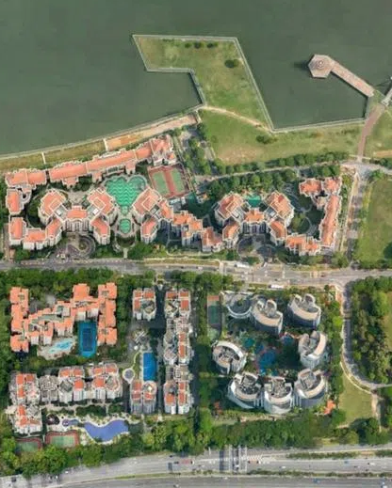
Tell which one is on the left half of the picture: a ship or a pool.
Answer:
pool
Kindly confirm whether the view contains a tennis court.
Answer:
Yes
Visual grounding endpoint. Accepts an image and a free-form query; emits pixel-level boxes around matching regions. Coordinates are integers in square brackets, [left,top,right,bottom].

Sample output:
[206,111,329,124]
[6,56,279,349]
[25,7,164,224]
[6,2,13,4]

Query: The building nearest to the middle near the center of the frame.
[170,212,226,254]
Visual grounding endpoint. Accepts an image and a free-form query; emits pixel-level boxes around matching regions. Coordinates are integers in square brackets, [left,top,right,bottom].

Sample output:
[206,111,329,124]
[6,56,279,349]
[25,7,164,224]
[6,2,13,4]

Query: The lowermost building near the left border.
[15,404,46,436]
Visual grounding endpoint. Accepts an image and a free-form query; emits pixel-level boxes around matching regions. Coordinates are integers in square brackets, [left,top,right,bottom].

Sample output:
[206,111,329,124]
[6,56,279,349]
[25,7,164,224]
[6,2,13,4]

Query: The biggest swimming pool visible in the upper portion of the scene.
[105,174,148,209]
